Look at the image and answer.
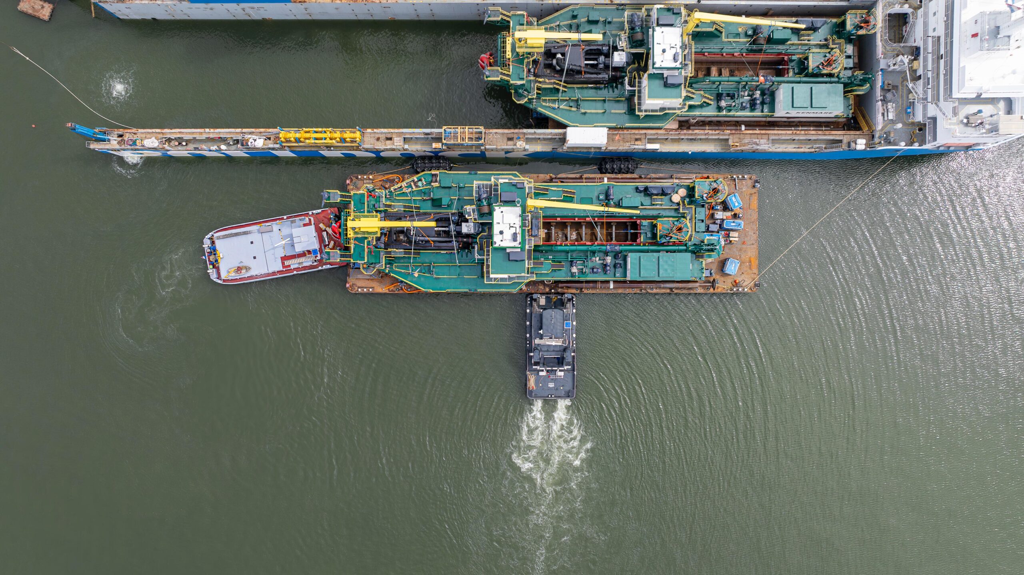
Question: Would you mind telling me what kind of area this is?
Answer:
port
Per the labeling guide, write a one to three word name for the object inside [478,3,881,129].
ship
